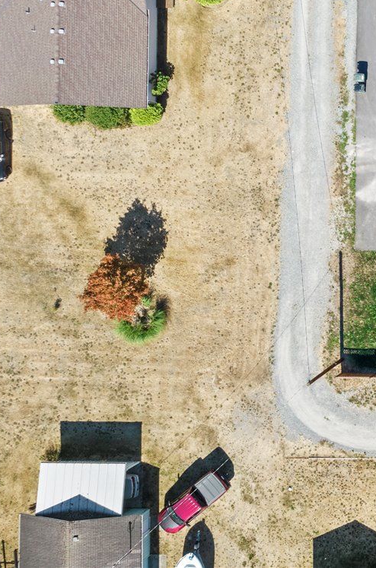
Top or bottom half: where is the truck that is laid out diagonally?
bottom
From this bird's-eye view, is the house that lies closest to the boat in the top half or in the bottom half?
bottom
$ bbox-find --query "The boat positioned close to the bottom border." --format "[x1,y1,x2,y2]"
[175,547,201,568]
